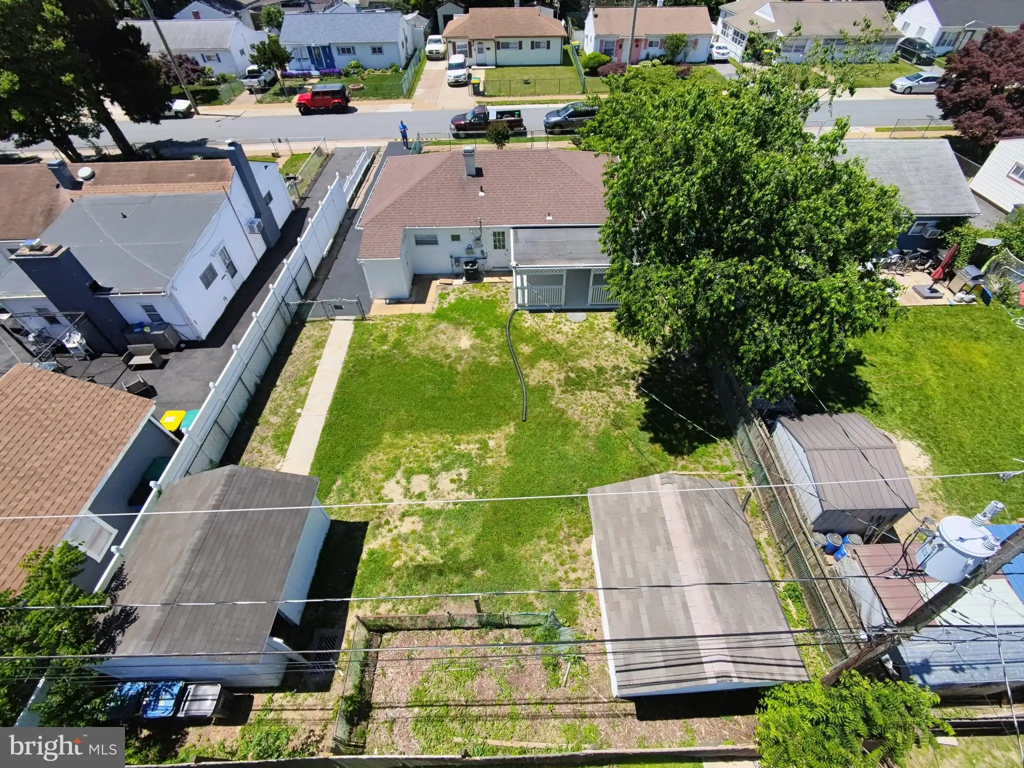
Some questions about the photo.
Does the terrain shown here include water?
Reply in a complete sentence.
No, the scene doesn't show any water.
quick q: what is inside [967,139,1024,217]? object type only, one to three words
house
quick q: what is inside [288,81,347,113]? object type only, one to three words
car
